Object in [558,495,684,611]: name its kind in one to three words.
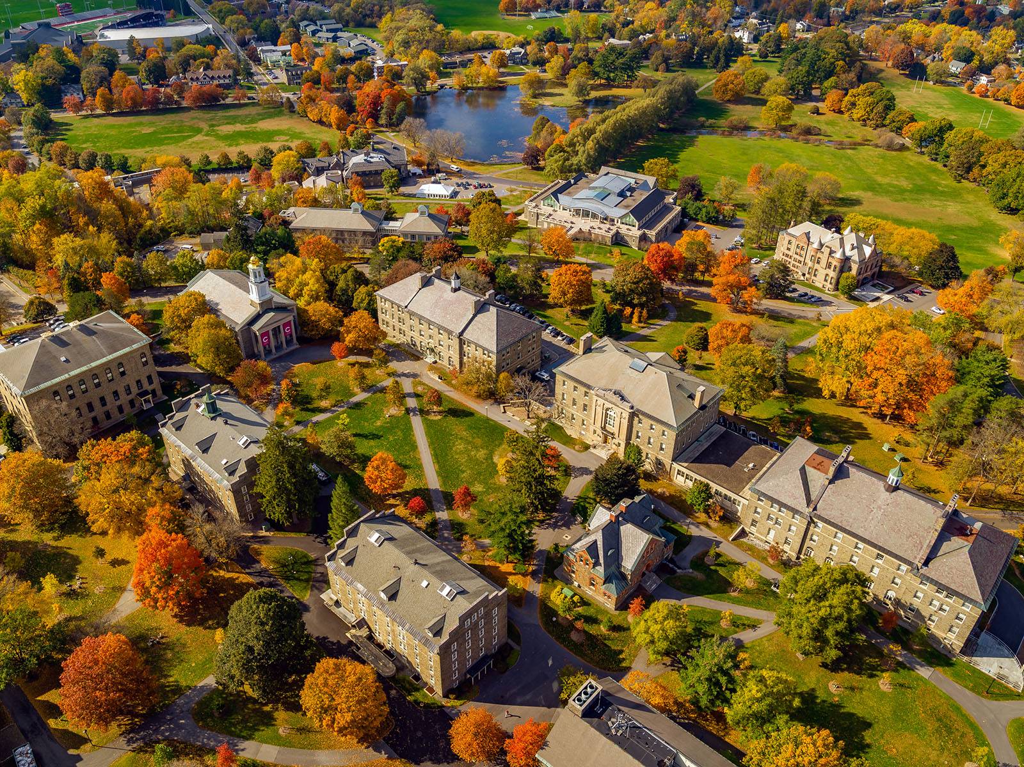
house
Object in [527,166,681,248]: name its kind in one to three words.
building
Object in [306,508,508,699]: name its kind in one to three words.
building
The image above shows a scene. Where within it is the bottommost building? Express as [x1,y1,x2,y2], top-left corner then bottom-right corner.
[528,669,745,767]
